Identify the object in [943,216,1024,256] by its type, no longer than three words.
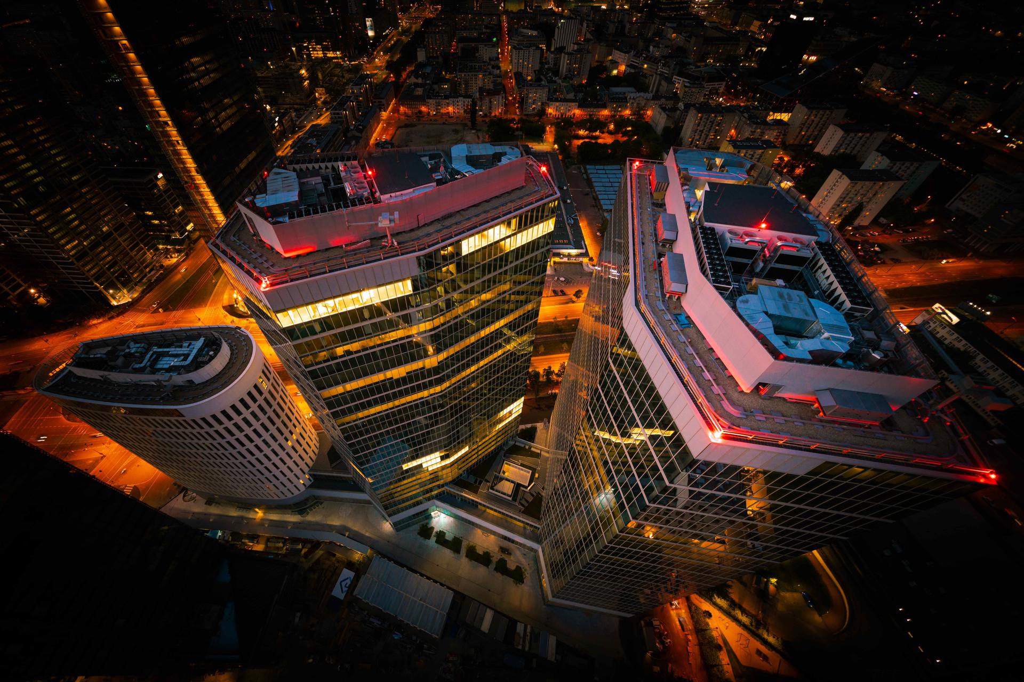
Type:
building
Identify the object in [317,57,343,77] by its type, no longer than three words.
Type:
building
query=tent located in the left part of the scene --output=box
[354,555,454,638]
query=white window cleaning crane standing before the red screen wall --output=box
[346,203,404,247]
